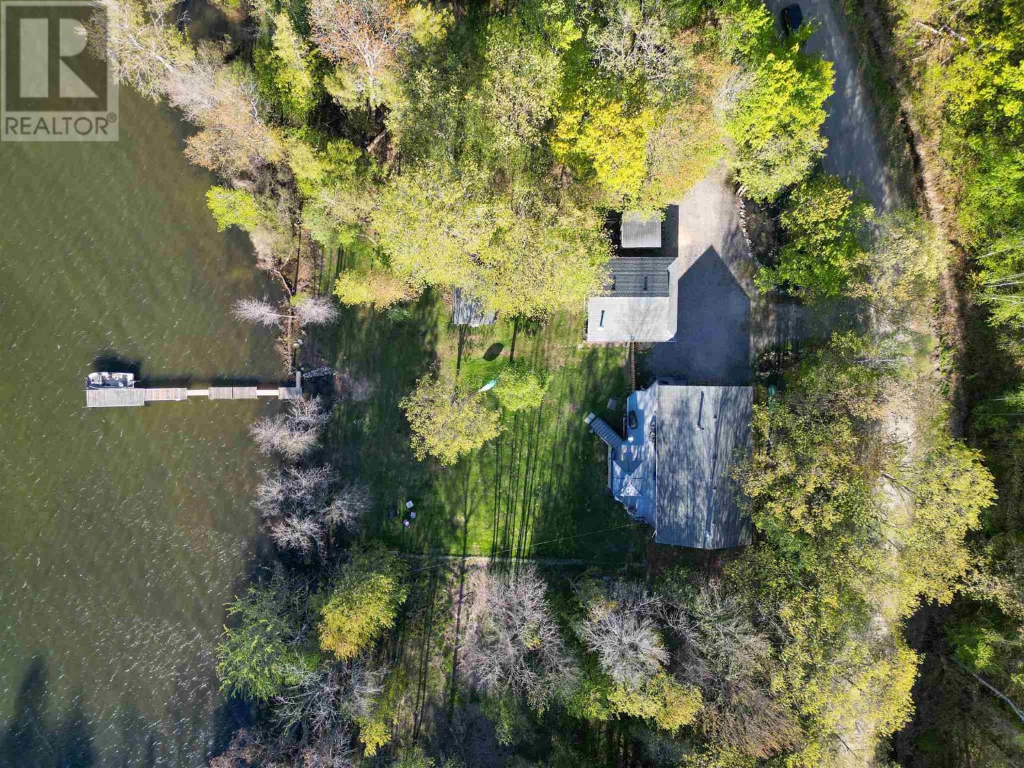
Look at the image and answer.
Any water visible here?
Yes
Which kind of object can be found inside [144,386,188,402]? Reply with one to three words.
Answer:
pier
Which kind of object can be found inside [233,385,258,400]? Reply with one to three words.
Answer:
pier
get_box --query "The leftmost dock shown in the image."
[86,386,145,408]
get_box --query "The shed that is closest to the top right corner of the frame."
[618,206,662,251]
